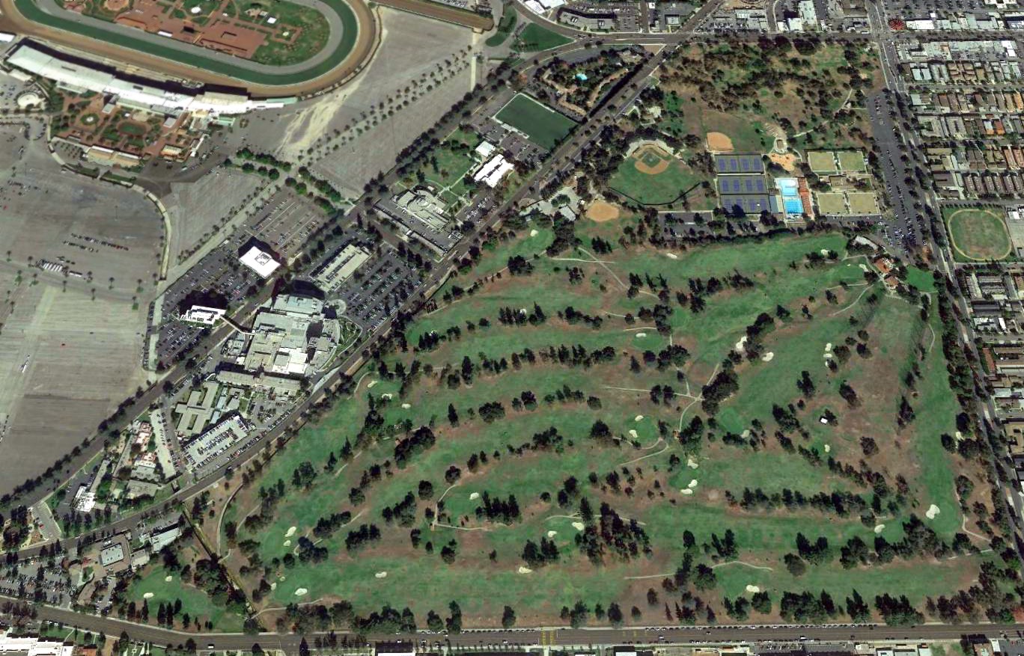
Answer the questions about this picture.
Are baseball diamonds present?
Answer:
Yes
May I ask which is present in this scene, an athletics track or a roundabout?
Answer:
athletics track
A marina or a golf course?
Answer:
golf course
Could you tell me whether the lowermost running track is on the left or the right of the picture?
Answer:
right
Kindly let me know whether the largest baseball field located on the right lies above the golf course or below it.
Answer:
above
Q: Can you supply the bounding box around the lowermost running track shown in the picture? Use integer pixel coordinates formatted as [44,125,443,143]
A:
[945,207,1016,262]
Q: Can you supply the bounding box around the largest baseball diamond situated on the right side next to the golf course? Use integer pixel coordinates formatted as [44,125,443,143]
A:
[608,136,701,205]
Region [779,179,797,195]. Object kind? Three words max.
swimming pool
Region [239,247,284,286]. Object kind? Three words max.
building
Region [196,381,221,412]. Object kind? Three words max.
house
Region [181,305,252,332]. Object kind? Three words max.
building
